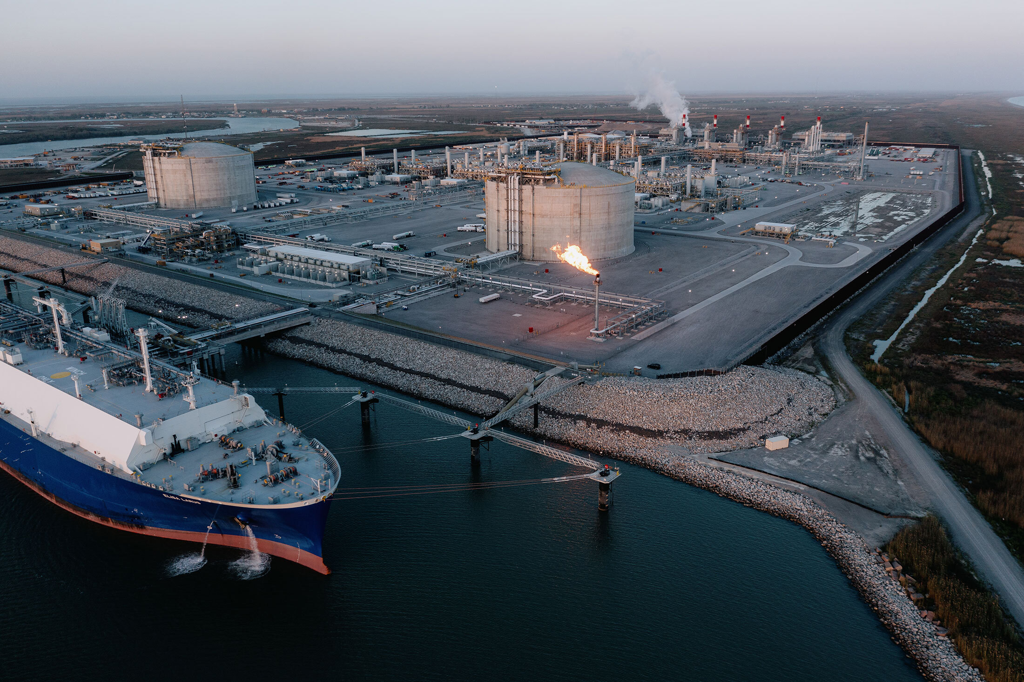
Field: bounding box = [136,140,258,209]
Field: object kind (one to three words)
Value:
storage tank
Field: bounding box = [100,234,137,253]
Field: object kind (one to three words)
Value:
building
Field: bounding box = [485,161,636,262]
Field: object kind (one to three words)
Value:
storage tank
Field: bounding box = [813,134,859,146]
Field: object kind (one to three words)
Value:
cooling tower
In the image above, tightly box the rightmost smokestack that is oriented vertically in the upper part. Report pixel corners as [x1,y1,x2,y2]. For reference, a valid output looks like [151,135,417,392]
[849,119,877,180]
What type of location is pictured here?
port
